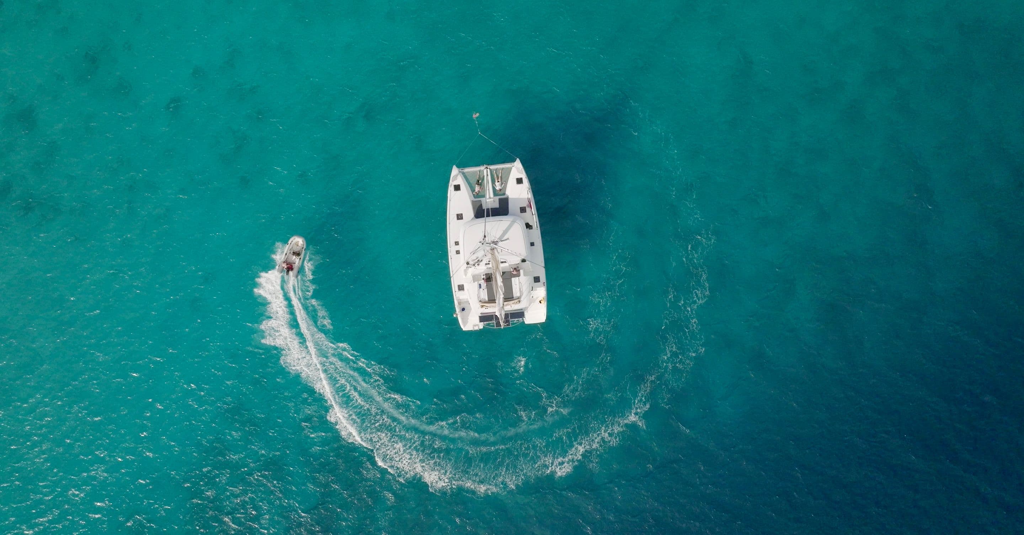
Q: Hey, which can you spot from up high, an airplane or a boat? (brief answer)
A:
boat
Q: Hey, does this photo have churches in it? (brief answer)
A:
No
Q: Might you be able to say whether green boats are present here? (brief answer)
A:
No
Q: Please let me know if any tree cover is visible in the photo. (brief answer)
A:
No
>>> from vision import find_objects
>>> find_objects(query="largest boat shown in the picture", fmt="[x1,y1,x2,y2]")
[447,159,547,331]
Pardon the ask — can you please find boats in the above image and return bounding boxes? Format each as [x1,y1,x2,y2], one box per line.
[447,159,547,331]
[278,234,307,276]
